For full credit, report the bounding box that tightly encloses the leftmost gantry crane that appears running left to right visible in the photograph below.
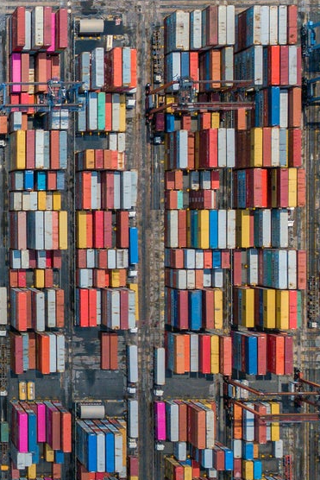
[0,80,82,111]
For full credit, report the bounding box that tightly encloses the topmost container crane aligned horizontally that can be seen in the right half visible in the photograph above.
[146,79,252,119]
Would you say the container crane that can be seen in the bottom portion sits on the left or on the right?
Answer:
right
